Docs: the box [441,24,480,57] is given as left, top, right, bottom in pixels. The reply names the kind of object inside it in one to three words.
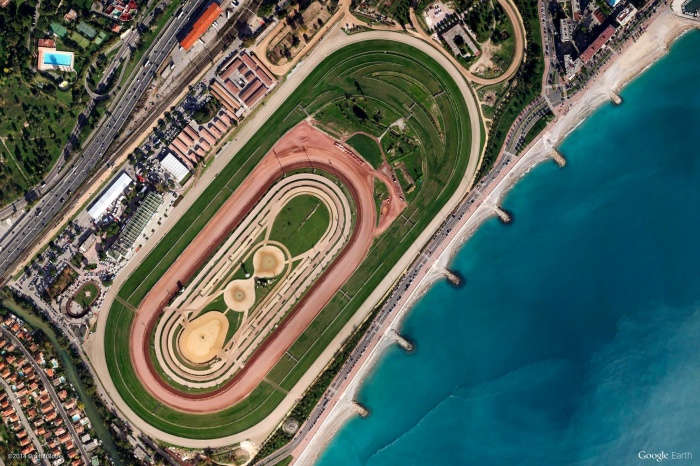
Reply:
building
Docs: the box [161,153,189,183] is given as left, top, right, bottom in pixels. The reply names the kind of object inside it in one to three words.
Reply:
building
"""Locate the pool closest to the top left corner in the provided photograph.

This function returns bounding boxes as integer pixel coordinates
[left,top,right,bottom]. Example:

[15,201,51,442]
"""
[38,46,75,70]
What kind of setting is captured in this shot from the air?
sports ground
